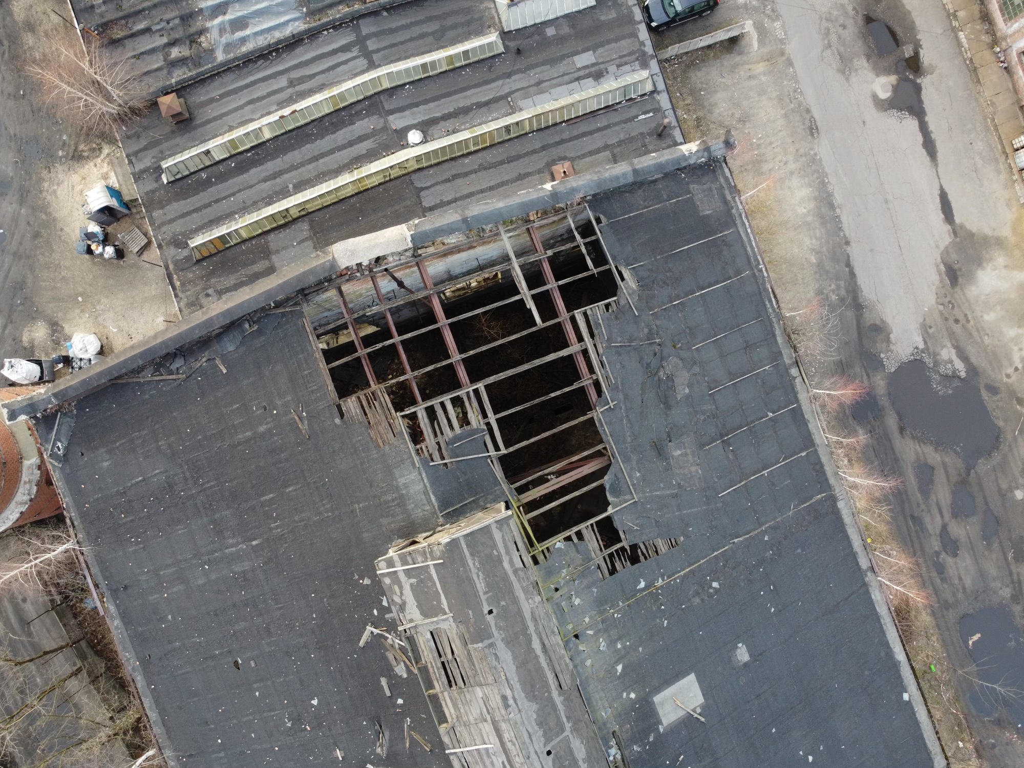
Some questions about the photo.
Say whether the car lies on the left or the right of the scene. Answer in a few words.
right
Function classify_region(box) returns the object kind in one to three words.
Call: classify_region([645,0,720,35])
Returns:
car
